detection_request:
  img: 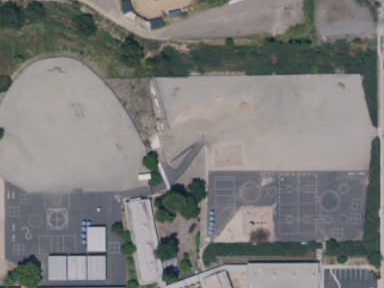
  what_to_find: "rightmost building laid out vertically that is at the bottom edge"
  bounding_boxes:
[125,198,163,284]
